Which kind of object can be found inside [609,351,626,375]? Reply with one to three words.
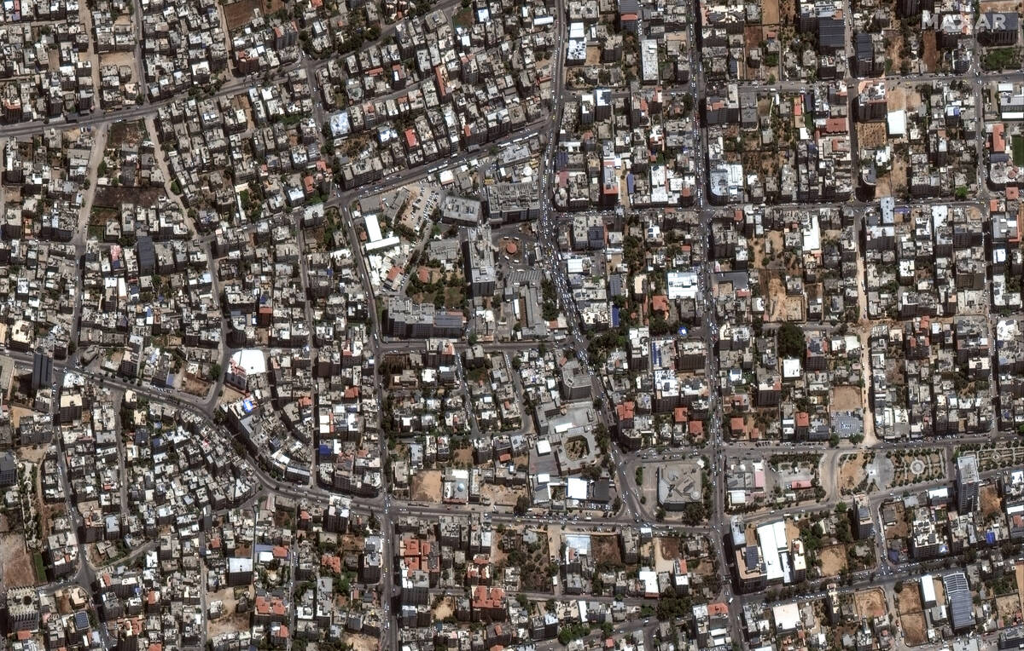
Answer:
house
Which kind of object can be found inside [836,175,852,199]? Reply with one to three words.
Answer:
building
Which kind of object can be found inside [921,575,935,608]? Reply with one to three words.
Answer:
building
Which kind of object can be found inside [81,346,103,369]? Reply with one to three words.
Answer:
house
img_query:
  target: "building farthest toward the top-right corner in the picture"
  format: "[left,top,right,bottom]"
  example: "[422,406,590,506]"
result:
[981,11,1019,45]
